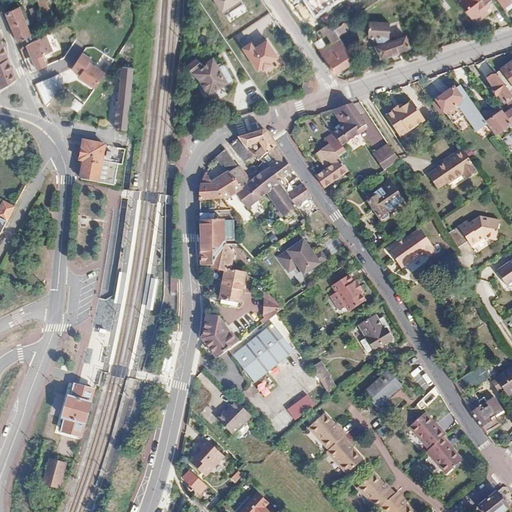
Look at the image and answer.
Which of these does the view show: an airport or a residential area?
residential area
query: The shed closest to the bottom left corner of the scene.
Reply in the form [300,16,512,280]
[45,458,67,489]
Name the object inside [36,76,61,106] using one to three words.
shed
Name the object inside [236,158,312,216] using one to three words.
house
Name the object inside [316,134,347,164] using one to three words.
house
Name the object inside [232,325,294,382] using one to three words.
building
